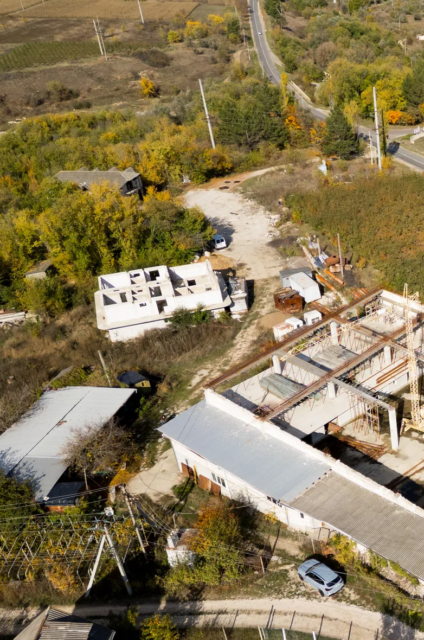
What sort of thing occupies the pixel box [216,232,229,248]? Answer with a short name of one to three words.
vehicle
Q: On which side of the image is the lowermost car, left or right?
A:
right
